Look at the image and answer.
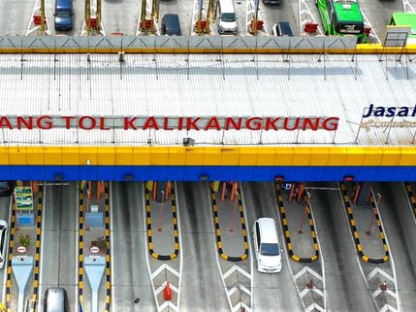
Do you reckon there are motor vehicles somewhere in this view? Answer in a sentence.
Yes, a motor vehicle appears in the view.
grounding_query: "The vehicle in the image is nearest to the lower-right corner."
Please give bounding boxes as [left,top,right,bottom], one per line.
[250,210,284,268]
